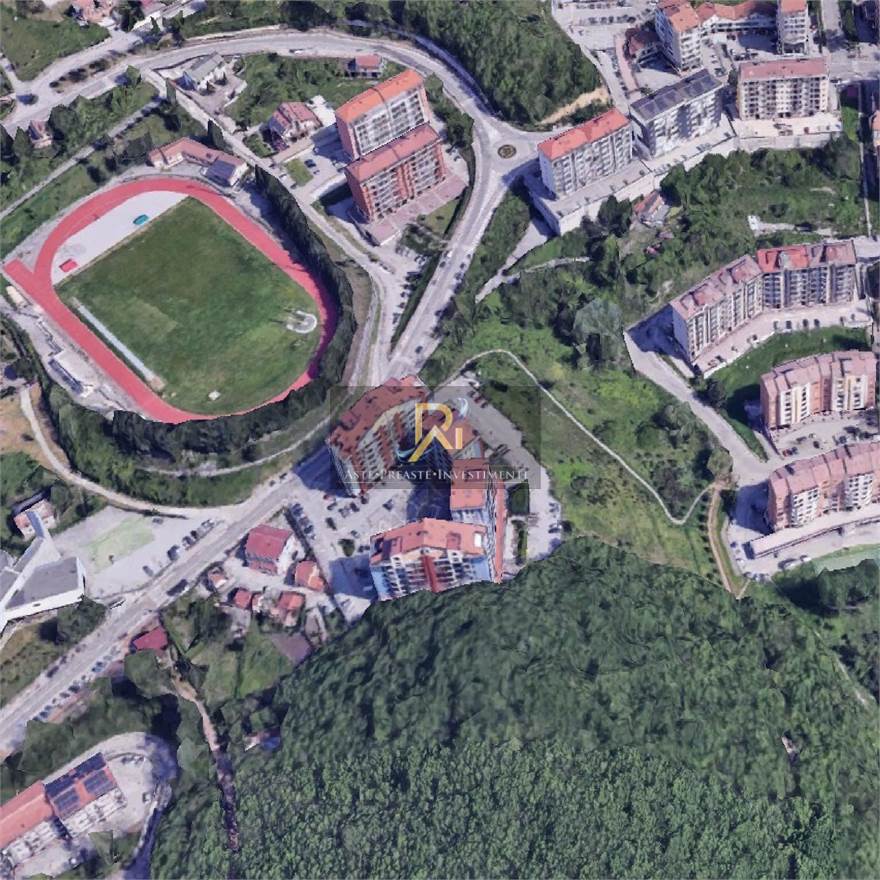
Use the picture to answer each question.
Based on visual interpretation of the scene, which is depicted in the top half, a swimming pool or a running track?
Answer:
running track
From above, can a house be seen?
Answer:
Yes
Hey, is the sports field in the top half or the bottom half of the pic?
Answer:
top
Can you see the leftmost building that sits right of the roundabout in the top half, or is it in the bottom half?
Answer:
top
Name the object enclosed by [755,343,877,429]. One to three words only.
building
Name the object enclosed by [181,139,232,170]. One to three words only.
building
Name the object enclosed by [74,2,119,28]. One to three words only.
house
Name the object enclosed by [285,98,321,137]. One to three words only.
house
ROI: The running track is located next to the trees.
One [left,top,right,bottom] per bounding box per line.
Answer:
[32,179,334,433]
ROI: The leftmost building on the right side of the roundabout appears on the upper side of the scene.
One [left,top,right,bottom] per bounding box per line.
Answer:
[538,107,634,198]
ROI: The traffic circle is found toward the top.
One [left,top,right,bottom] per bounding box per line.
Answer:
[478,131,535,172]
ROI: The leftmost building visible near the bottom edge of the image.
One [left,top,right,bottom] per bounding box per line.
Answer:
[0,765,64,878]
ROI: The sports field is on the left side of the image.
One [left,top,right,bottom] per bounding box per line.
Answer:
[3,179,334,433]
